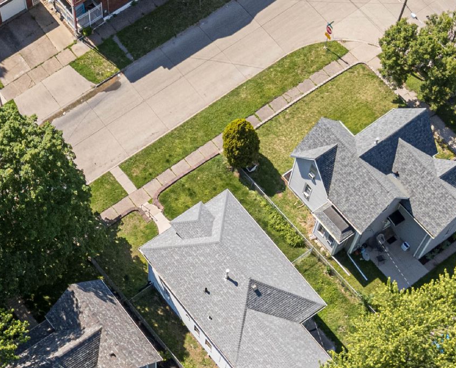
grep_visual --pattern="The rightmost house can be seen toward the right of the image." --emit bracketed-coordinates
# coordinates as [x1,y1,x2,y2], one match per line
[281,107,456,280]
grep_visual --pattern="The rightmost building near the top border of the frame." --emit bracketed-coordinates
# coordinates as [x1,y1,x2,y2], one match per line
[47,0,136,38]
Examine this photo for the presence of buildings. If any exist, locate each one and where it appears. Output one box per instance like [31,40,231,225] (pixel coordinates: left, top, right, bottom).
[47,0,136,38]
[0,0,34,26]
[281,107,456,280]
[0,279,163,368]
[137,189,350,368]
